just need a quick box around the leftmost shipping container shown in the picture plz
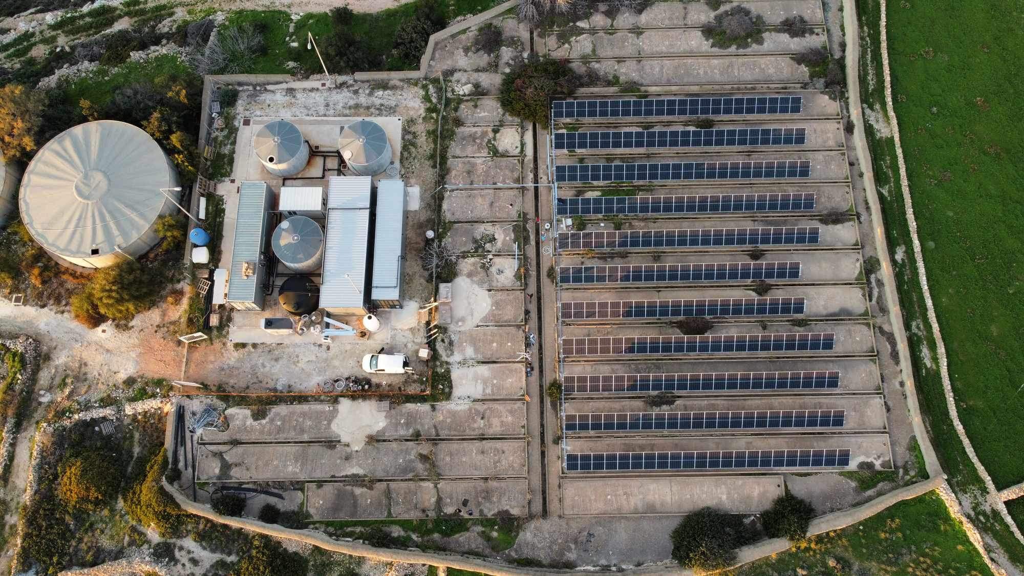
[227,181,274,308]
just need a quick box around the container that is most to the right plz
[371,180,407,306]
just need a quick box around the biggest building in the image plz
[319,176,377,315]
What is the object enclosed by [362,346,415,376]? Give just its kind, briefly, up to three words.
van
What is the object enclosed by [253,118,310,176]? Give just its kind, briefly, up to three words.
water tank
